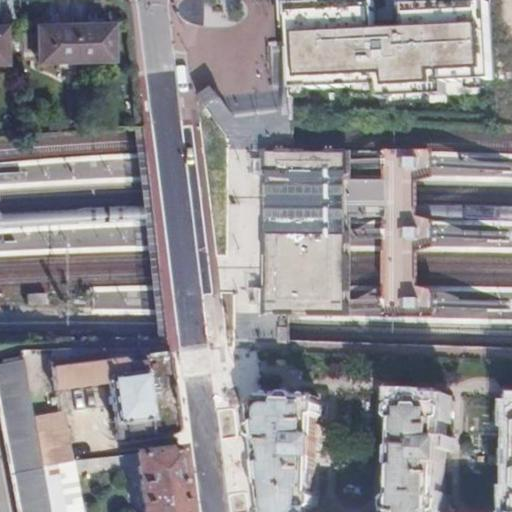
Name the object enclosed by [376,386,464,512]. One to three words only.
house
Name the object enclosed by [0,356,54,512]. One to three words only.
building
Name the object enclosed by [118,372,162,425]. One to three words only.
shed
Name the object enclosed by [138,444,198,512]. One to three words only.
house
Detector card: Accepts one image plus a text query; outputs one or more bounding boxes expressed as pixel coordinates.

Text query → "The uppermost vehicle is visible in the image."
[175,65,188,93]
